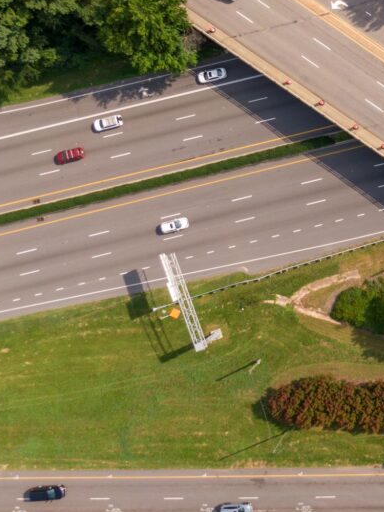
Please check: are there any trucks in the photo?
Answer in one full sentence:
No, I can't see a single truck in this photo.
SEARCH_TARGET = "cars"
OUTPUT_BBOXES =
[29,485,63,501]
[198,67,227,84]
[220,503,252,512]
[160,217,190,234]
[54,147,85,164]
[93,114,124,131]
